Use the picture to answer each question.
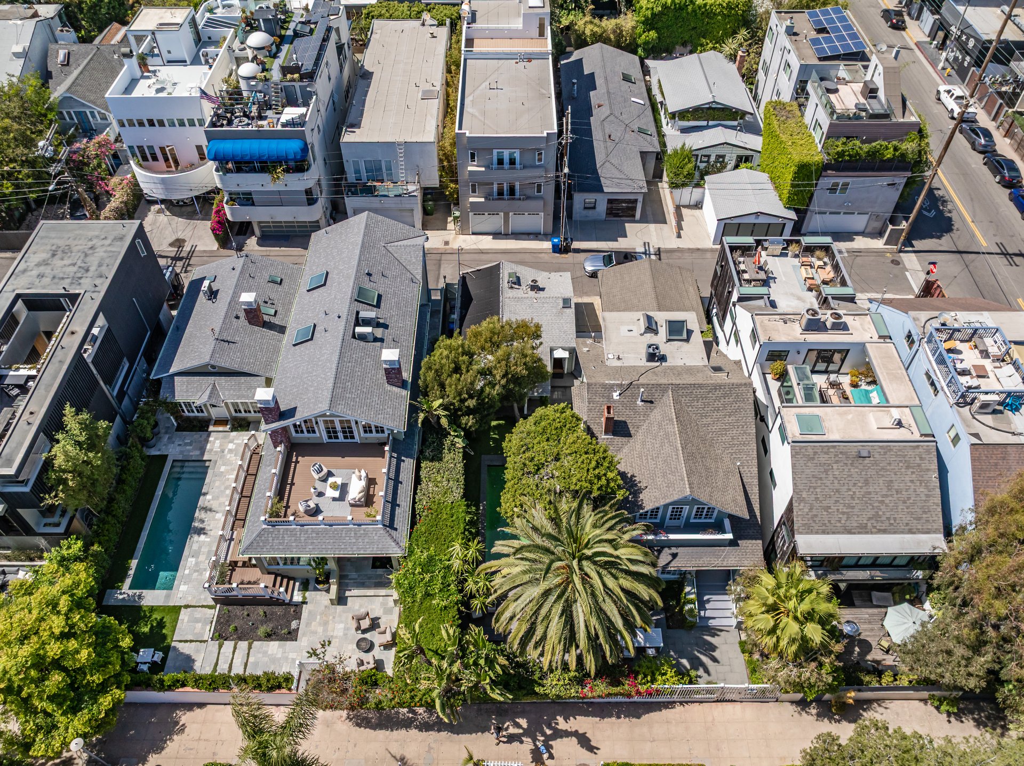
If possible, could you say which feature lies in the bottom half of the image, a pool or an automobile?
pool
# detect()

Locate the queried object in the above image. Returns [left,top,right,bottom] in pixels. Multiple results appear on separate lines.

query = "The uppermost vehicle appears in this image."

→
[878,6,909,30]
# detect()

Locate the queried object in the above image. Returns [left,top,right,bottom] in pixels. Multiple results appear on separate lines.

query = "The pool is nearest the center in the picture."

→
[479,468,544,582]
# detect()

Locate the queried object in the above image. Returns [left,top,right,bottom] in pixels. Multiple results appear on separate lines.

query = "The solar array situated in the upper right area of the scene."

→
[803,9,879,51]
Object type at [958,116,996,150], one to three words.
car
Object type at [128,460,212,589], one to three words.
swimming pool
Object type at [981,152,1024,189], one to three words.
car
